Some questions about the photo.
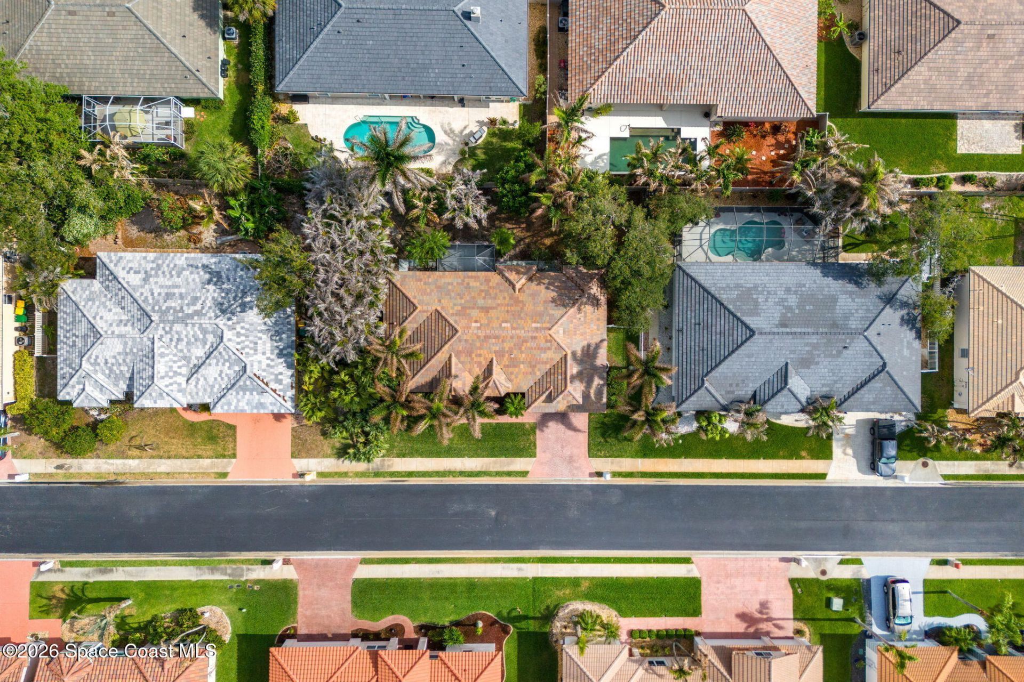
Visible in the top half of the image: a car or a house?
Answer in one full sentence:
There is a house in the top half of the image.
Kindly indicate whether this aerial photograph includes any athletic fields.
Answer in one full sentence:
No, no athletic field is visible in the view.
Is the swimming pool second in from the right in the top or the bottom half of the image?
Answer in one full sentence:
Seen from above, the swimming pool second in from the right lies in the top half of the view.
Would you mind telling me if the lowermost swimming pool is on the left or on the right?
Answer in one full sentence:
The lowermost swimming pool is on the right side of the image.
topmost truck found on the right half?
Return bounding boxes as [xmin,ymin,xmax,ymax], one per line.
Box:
[868,416,901,477]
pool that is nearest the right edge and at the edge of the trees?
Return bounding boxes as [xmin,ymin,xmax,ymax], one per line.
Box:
[708,219,787,261]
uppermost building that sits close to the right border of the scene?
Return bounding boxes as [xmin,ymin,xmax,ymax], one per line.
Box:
[858,0,1024,115]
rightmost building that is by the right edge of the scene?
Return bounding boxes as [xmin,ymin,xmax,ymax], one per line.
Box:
[955,265,1024,418]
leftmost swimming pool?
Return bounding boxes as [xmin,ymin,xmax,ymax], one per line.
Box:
[341,113,437,157]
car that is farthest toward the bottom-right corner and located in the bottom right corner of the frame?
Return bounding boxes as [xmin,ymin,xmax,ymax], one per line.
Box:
[882,577,915,632]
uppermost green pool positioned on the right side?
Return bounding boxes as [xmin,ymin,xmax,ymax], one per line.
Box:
[610,128,697,171]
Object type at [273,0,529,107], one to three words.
house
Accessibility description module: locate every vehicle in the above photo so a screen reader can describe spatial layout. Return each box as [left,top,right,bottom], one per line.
[882,577,915,632]
[868,416,901,477]
[0,409,8,460]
